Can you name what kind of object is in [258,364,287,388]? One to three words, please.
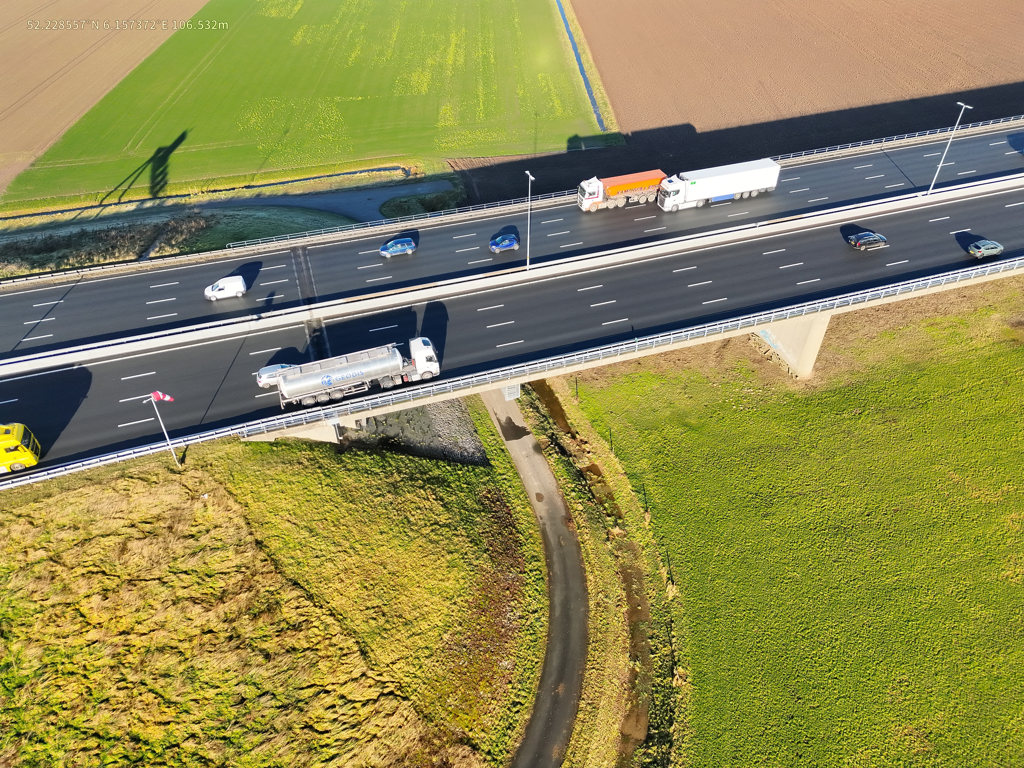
car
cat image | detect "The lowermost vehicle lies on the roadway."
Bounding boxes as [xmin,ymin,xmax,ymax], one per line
[0,423,39,471]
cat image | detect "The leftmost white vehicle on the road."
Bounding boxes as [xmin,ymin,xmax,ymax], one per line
[203,276,243,301]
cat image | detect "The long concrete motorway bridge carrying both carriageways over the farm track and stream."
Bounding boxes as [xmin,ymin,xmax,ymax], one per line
[0,124,1024,445]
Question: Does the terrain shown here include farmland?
Yes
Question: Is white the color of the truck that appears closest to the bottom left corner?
No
